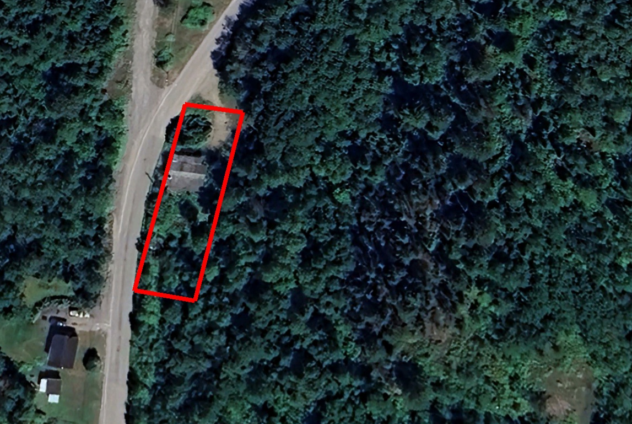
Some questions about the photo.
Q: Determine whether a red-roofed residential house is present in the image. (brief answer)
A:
No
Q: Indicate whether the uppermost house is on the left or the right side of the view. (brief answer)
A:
left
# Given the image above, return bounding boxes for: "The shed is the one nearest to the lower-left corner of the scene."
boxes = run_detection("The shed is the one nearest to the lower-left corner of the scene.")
[39,378,62,402]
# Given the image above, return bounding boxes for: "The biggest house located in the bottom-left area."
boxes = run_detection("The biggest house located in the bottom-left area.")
[49,330,78,370]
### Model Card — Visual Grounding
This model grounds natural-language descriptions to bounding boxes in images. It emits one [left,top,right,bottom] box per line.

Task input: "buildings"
[49,330,78,370]
[39,378,62,402]
[168,153,207,192]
